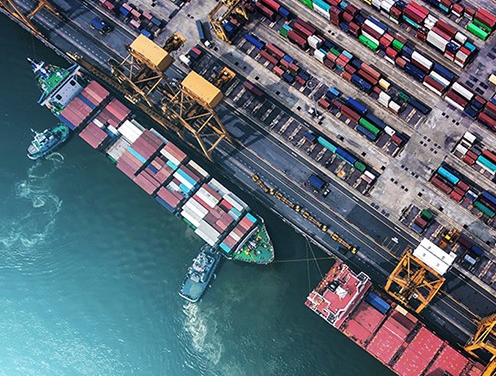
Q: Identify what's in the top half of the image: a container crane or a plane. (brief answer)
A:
container crane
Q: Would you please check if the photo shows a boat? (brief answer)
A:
Yes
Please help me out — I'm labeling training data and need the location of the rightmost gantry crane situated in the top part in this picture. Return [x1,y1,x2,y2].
[204,0,252,48]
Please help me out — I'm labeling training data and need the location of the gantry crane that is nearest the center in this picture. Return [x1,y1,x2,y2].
[162,54,235,164]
